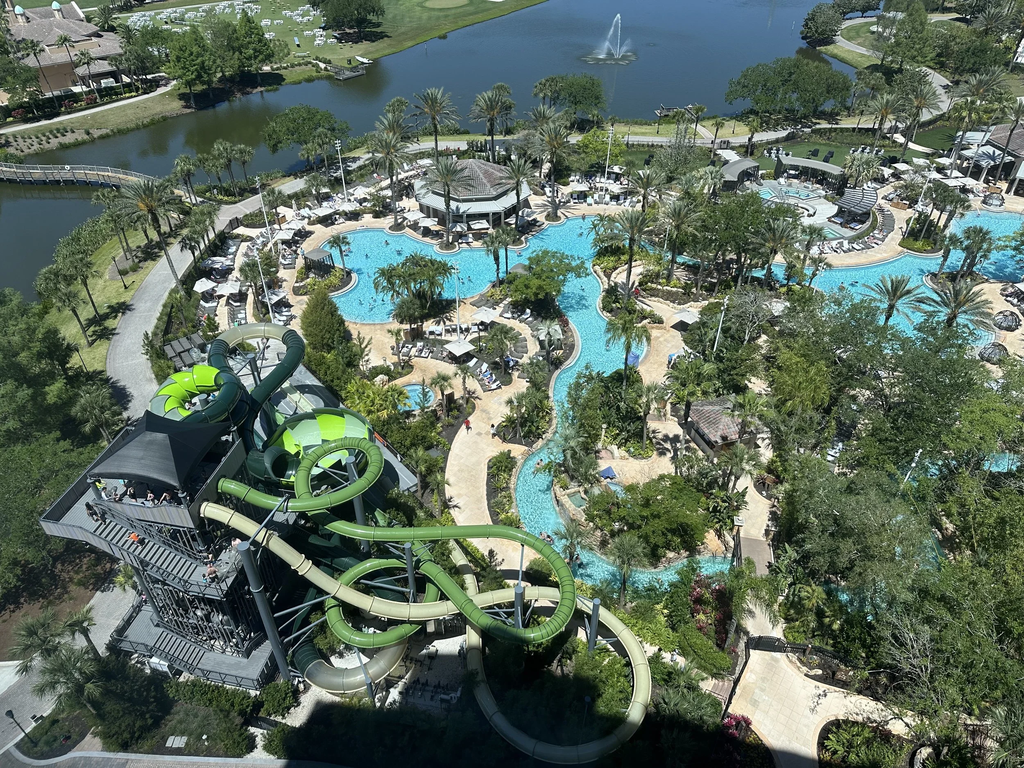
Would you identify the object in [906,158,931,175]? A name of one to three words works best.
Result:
umbrella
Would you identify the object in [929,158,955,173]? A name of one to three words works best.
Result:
umbrella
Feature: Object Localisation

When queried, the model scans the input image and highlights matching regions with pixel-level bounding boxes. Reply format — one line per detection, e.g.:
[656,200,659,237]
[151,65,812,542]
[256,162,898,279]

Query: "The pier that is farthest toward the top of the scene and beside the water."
[326,59,368,86]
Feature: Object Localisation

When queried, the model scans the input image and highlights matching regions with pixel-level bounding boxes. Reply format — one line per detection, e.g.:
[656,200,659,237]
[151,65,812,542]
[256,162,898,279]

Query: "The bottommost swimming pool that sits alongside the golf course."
[322,213,1024,612]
